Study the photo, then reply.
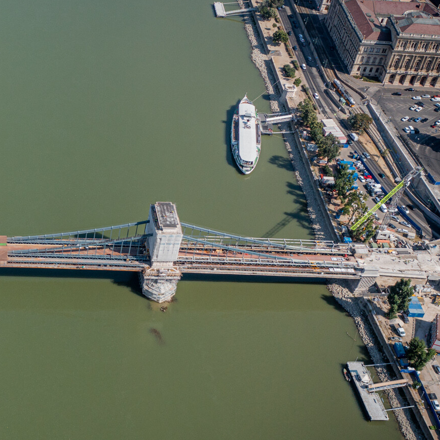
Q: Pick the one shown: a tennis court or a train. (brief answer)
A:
train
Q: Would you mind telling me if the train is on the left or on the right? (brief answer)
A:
right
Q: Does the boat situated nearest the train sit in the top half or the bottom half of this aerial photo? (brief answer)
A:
top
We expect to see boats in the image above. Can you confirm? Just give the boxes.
[231,94,262,177]
[343,369,352,381]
